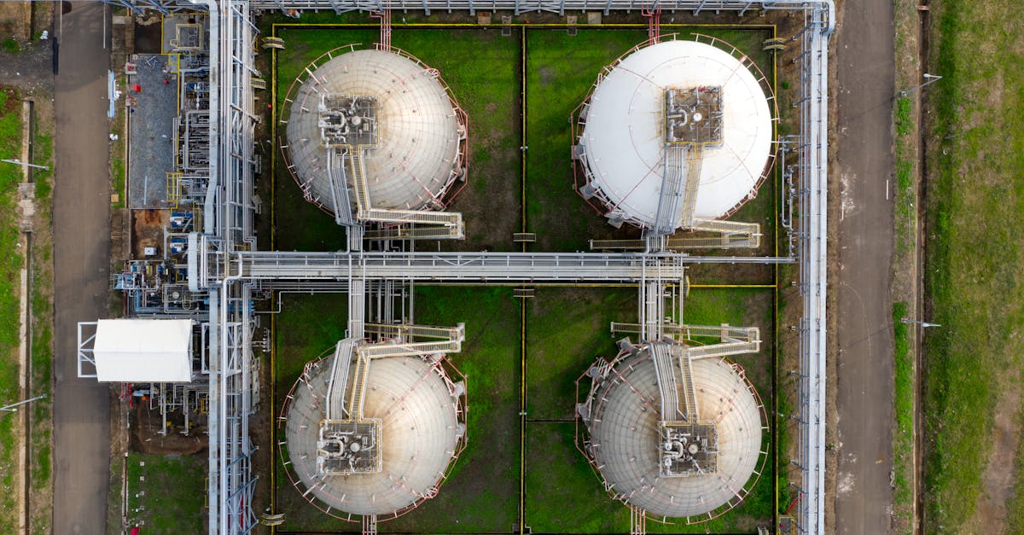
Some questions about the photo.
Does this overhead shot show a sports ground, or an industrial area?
industrial area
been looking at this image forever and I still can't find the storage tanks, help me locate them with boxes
[570,327,772,527]
[276,324,473,525]
[566,31,783,242]
[276,40,473,236]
